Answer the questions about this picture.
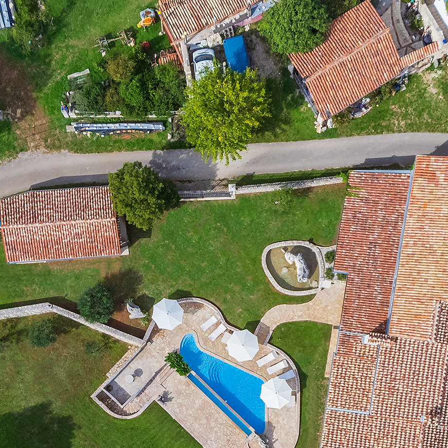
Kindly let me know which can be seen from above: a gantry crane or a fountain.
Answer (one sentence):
This aerial view contains a fountain.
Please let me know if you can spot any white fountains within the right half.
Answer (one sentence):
Yes, a white fountain is visible within the right half.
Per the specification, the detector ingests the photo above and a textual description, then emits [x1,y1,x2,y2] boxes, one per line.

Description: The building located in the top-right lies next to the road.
[286,0,440,127]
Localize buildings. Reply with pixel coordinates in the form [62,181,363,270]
[158,0,258,65]
[286,0,440,127]
[0,184,122,265]
[319,156,448,448]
